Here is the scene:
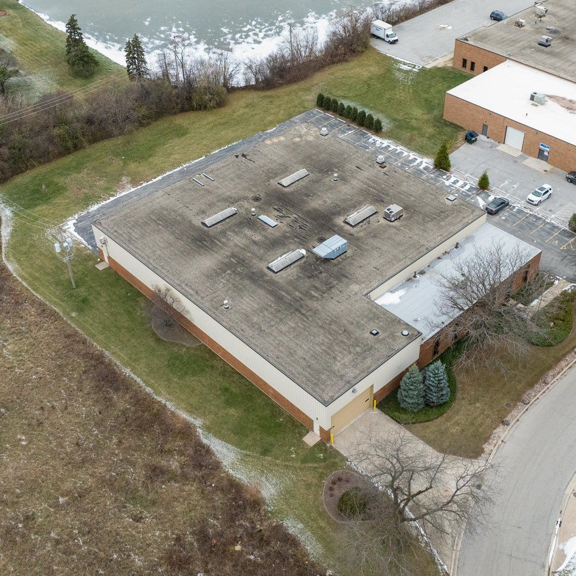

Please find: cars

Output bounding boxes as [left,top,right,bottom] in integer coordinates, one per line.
[485,197,512,216]
[526,182,552,205]
[488,7,506,19]
[563,170,576,184]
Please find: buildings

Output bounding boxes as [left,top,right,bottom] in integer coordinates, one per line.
[90,120,540,451]
[443,0,576,172]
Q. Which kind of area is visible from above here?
industrial area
